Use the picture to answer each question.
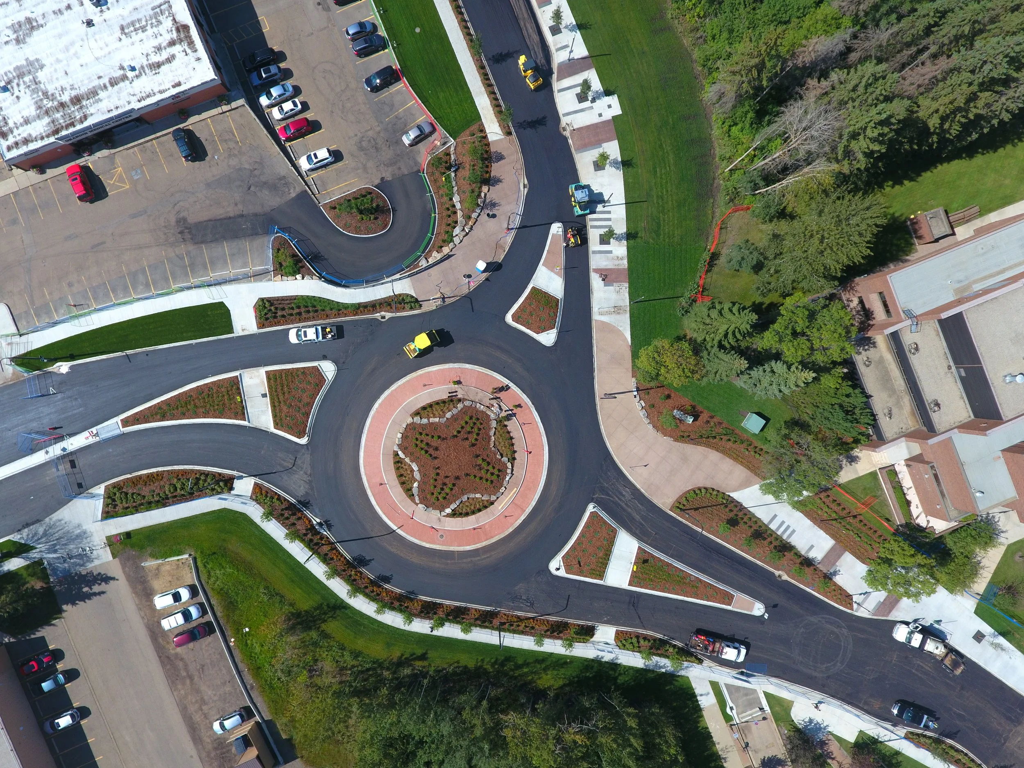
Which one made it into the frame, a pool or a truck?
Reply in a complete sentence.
It is a truck that can be seen here.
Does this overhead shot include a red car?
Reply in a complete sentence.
Yes, there is a red car in the image.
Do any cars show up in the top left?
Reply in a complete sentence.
Yes, a car can be seen in the top left.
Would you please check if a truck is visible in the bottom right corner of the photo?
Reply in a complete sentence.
Yes, you'll find a truck in the bottom right corner of the photo.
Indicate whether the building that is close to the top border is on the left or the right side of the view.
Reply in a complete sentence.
The building that is close to the top border appears in the left half of the scene.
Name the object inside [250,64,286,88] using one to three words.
car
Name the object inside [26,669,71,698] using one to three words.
truck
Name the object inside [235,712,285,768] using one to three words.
shed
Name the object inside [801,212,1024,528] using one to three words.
building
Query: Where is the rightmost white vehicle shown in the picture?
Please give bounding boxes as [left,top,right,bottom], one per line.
[891,621,951,660]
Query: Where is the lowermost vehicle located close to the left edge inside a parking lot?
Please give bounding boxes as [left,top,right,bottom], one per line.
[44,707,82,733]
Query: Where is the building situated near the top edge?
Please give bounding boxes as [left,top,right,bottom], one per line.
[0,0,226,166]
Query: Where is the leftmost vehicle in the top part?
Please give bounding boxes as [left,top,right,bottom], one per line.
[68,164,95,205]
